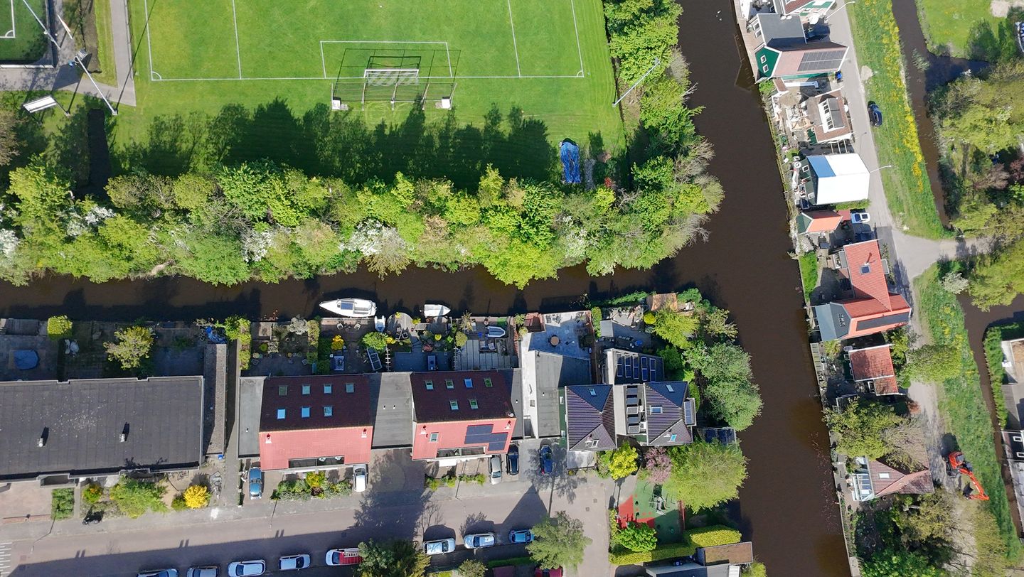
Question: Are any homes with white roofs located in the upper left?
No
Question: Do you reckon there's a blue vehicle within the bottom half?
Yes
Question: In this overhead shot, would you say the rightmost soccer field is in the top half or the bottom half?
top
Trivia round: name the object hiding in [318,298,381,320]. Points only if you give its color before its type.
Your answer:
white boat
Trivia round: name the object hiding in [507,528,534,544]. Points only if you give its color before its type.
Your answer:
blue car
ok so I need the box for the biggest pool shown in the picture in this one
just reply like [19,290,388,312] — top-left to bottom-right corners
[8,348,45,372]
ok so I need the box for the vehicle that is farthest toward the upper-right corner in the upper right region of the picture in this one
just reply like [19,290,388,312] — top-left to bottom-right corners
[866,103,883,126]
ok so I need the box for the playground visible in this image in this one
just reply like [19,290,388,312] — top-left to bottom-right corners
[618,478,685,543]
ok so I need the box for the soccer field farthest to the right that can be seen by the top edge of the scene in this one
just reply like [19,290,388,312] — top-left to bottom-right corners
[136,0,620,151]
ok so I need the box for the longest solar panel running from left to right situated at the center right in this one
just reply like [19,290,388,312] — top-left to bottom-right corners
[857,313,912,333]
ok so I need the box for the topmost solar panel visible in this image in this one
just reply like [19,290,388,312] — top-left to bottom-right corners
[799,50,847,72]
